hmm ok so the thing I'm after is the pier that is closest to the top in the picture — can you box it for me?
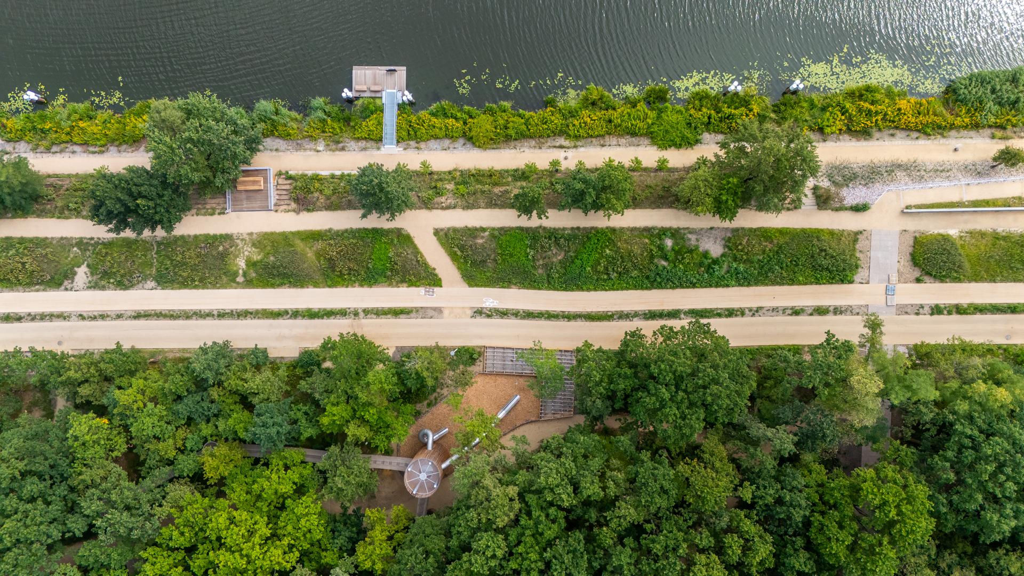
[353,66,406,103]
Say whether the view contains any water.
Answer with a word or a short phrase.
Yes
